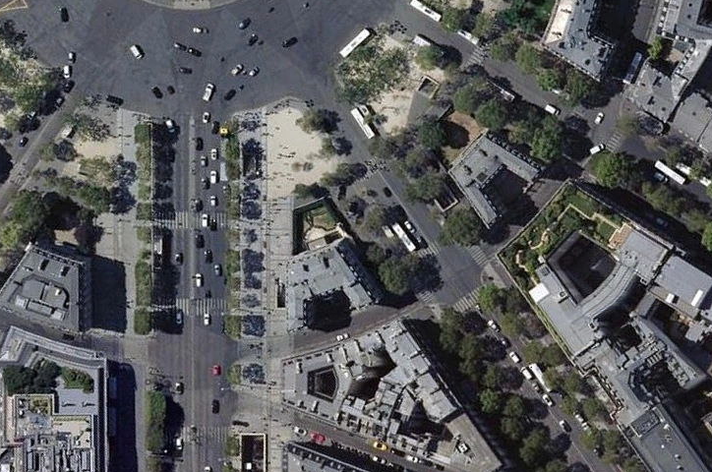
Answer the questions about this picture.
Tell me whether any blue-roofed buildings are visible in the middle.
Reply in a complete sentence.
No, no blue-roofed building appears in the middle.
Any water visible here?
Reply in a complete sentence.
No, there is no water in the image.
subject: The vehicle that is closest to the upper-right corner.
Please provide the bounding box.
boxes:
[625,51,643,84]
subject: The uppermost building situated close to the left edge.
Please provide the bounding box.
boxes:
[0,243,96,333]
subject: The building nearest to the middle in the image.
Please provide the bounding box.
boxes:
[287,234,384,332]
